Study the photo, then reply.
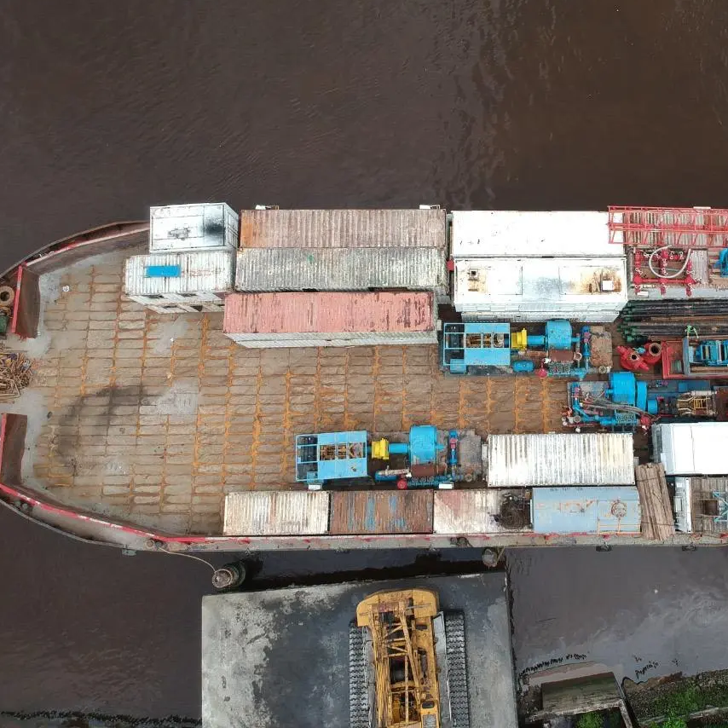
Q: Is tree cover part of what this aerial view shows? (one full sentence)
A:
No, no tree cover is visible.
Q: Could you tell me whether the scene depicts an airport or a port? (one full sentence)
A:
This image shows a port.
